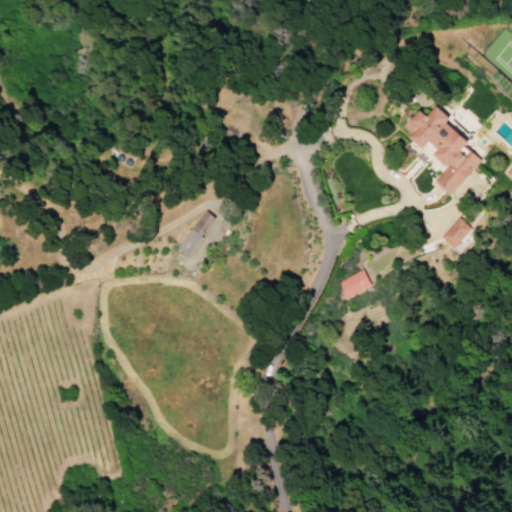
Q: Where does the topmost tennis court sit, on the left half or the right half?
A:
right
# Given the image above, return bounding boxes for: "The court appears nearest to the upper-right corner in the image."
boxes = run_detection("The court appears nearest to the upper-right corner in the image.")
[486,34,512,80]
